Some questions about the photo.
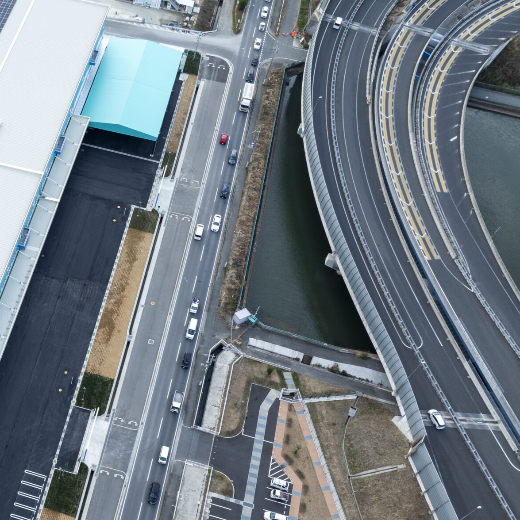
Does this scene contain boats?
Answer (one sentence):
No, there isn't any boat down there.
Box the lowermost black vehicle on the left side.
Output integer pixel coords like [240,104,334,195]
[146,482,160,506]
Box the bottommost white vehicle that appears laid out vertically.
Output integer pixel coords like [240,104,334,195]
[157,443,170,468]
